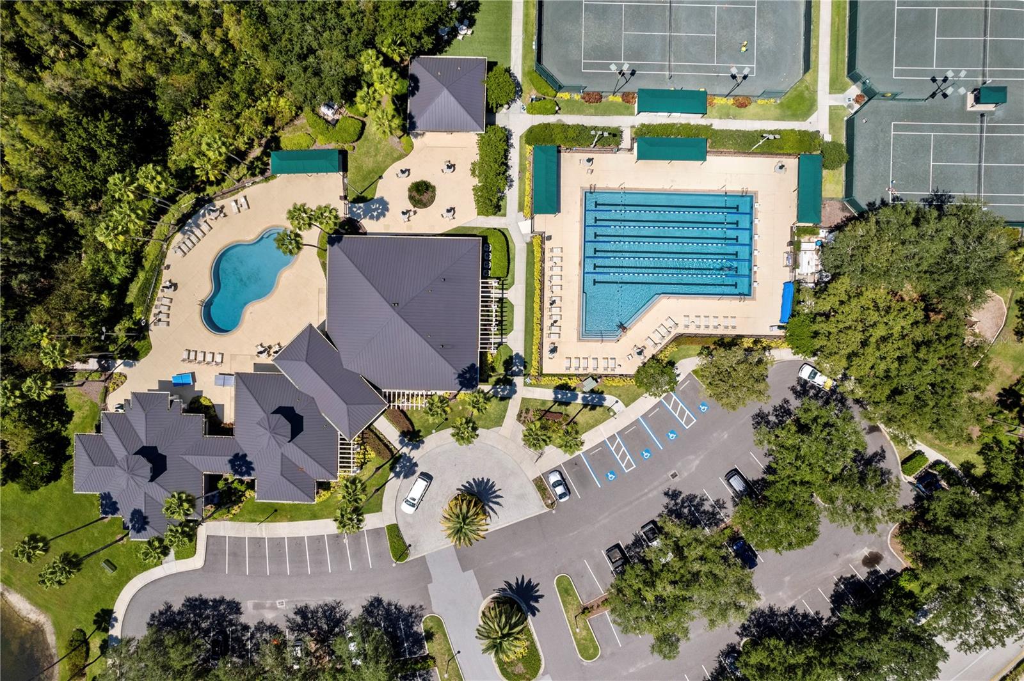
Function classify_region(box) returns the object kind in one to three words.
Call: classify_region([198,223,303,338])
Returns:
swimming pool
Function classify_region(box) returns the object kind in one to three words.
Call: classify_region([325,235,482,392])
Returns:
building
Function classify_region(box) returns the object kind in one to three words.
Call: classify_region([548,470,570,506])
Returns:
car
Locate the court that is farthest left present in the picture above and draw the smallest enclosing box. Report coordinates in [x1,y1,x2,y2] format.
[536,0,805,99]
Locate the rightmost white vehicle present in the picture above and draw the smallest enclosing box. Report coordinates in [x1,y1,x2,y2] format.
[799,365,843,399]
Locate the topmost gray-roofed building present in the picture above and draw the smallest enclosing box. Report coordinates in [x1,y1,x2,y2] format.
[408,56,487,135]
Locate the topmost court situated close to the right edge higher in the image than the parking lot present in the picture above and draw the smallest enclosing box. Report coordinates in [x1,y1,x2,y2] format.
[855,0,1024,109]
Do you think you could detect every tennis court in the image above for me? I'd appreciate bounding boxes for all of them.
[851,96,1024,226]
[536,0,805,99]
[855,0,1024,109]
